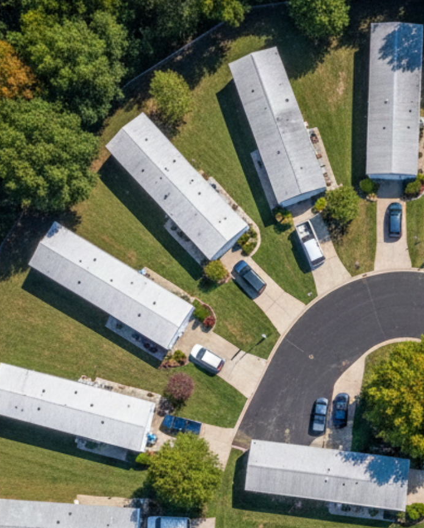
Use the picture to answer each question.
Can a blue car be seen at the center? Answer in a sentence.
Yes, a blue car can be seen at the center.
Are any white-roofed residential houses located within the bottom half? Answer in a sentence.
Yes, a white-roofed residential house is visible within the bottom half.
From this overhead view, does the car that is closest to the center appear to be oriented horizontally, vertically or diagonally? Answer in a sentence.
I'd say the car that is closest to the center is aligned diagonally in the picture.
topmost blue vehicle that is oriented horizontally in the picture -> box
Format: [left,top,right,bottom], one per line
[163,415,203,436]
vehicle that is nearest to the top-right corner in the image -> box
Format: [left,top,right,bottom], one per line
[388,204,403,240]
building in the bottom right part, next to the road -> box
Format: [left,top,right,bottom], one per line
[245,439,411,512]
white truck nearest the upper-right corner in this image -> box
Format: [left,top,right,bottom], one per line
[296,221,324,268]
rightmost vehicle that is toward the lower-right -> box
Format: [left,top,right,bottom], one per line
[334,394,349,428]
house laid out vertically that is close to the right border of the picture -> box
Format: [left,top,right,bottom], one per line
[365,21,423,182]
